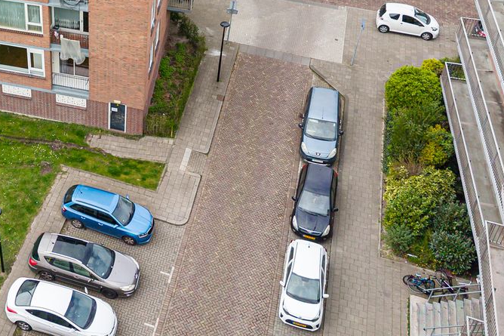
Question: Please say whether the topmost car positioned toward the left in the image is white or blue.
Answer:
blue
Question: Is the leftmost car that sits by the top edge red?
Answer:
No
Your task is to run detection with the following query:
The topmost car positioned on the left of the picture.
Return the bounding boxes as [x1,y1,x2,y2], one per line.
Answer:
[64,180,155,242]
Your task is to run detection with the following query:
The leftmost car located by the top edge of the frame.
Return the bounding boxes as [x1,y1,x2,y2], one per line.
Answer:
[377,0,440,40]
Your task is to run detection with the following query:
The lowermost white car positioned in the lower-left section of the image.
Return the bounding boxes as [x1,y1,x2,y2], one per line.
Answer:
[5,276,115,336]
